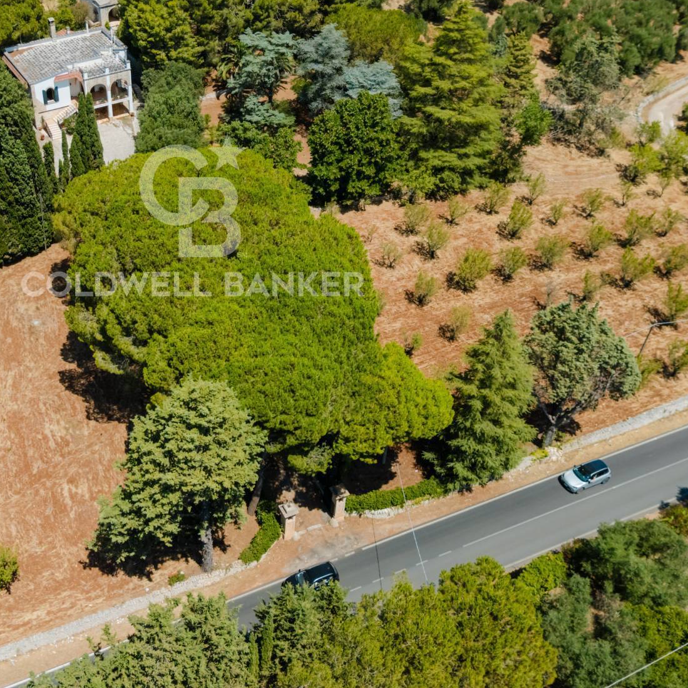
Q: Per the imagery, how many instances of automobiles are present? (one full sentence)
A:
Looking from above, you can make out 2 automobiles.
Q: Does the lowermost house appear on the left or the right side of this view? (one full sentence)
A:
The lowermost house appears in the left half of the scene.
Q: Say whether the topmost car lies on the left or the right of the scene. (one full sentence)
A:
The topmost car is on the right side of the image.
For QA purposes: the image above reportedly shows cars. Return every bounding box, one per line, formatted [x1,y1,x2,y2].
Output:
[558,458,615,494]
[277,559,342,598]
